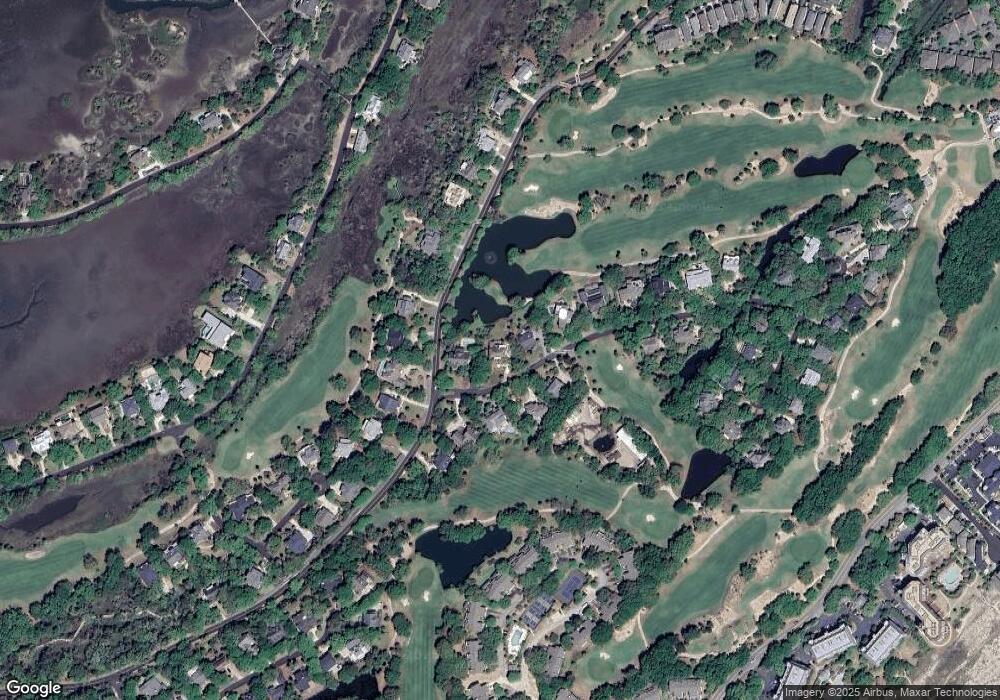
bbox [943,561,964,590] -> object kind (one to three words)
swimming pool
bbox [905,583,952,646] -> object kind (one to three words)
building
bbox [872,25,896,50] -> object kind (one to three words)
house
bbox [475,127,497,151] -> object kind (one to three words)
house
